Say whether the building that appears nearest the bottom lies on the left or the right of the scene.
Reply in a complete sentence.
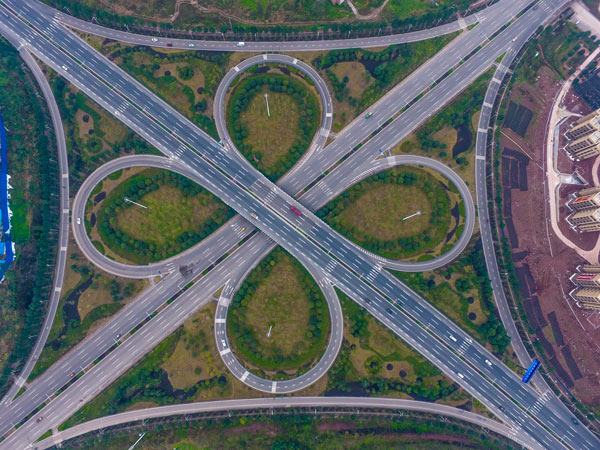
The building that appears nearest the bottom appears in the right half of the scene.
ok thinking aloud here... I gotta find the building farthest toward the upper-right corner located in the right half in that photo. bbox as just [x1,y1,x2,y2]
[562,111,600,162]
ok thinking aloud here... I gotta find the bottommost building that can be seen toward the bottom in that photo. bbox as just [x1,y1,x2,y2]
[568,262,600,311]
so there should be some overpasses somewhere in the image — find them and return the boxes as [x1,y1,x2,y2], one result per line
[233,175,315,253]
